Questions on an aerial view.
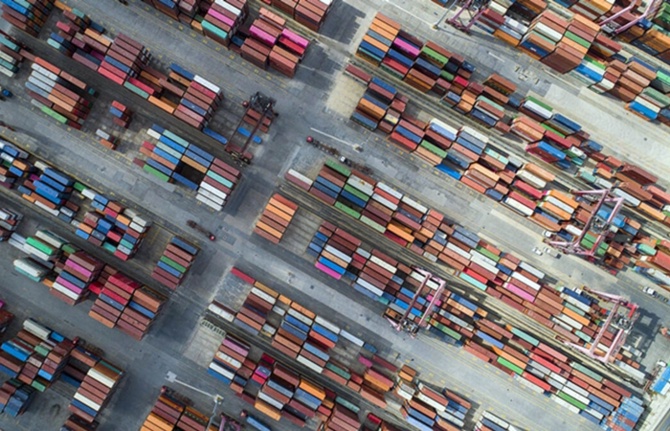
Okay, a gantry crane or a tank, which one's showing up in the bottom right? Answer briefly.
gantry crane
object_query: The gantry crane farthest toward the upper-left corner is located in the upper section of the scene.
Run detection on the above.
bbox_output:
[221,88,287,168]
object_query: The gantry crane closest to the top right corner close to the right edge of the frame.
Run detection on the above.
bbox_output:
[597,0,656,46]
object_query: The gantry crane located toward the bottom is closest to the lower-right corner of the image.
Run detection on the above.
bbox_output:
[551,283,642,366]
